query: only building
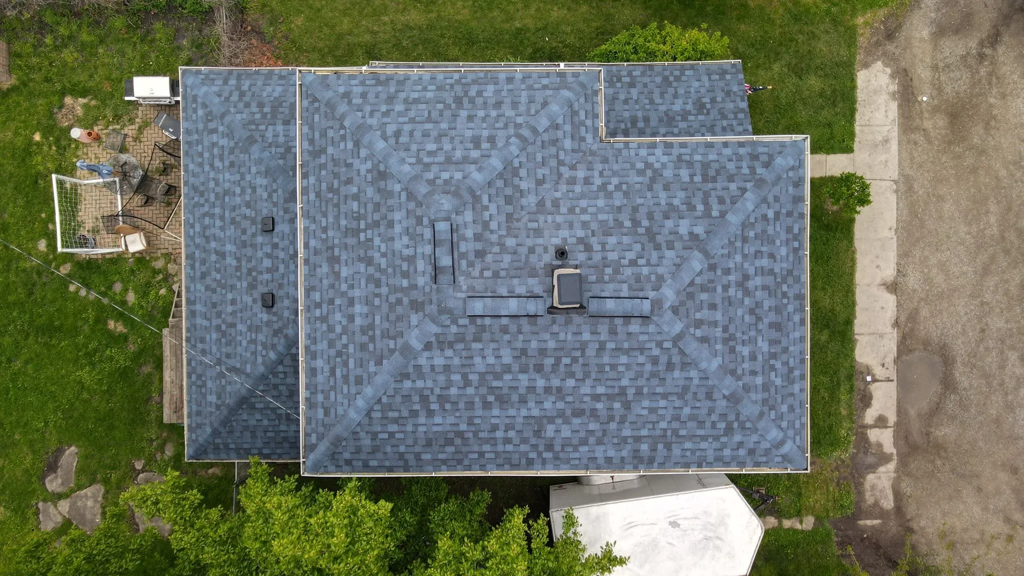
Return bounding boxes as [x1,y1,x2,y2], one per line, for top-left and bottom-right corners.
[179,61,809,475]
